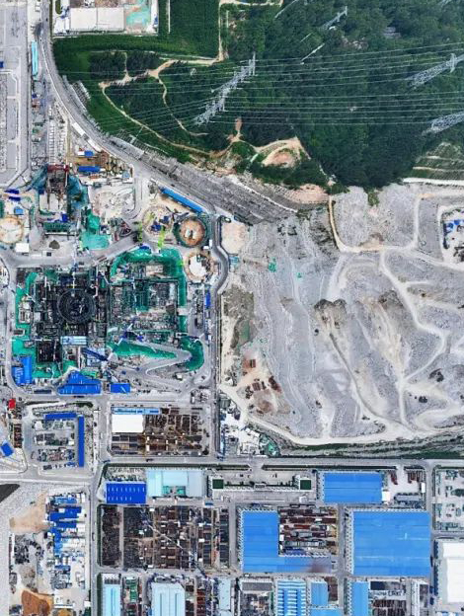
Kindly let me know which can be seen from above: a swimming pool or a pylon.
pylon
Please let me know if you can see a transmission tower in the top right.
Yes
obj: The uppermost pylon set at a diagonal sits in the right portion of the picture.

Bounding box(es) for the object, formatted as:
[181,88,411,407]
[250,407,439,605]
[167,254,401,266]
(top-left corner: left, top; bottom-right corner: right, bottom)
[323,5,347,31]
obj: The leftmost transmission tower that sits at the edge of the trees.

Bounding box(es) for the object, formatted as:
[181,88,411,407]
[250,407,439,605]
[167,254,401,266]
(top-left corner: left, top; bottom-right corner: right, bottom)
[190,89,225,129]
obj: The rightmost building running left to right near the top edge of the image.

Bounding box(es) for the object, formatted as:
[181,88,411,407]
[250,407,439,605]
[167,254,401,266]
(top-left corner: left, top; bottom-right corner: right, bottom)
[70,8,124,32]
